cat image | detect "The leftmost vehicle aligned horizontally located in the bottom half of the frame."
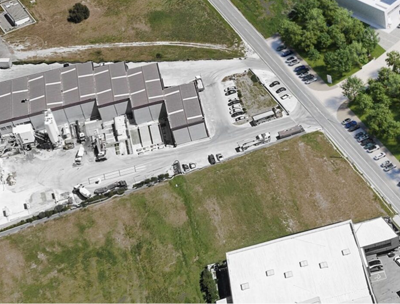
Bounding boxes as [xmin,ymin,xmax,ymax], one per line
[92,177,131,195]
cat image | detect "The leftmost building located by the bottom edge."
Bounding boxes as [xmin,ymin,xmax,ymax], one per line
[226,221,375,304]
